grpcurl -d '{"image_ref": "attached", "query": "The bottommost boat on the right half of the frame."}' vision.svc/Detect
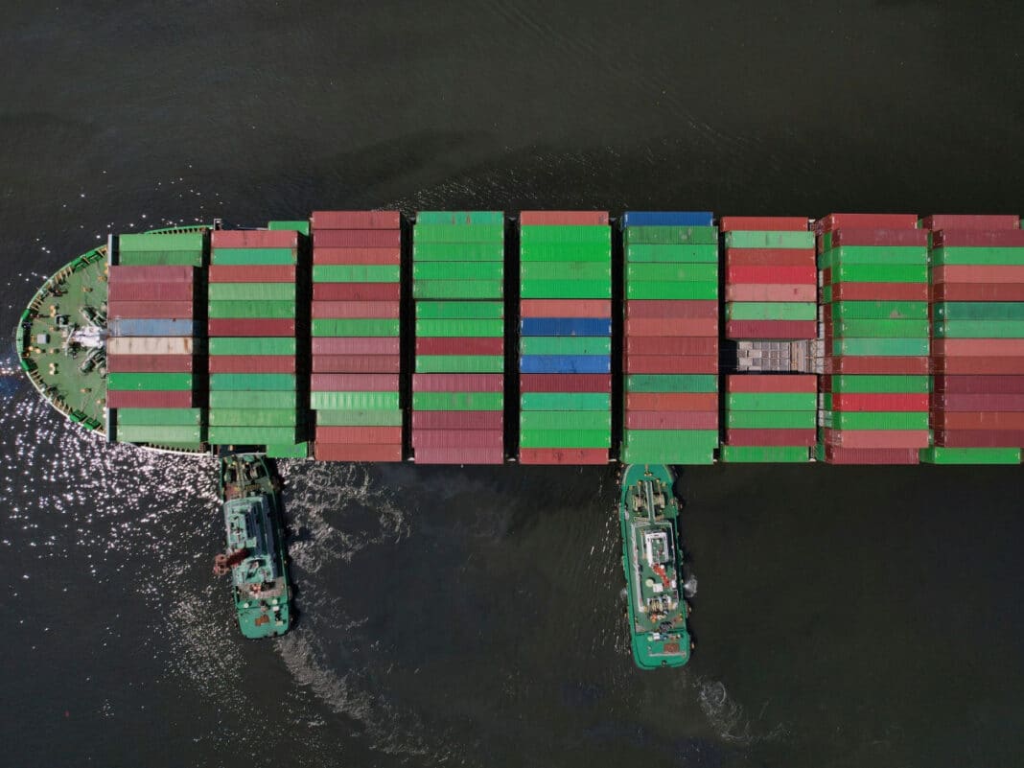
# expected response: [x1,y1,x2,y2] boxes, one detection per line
[618,463,693,672]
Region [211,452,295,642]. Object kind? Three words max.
boat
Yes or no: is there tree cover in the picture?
No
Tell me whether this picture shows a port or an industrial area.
port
